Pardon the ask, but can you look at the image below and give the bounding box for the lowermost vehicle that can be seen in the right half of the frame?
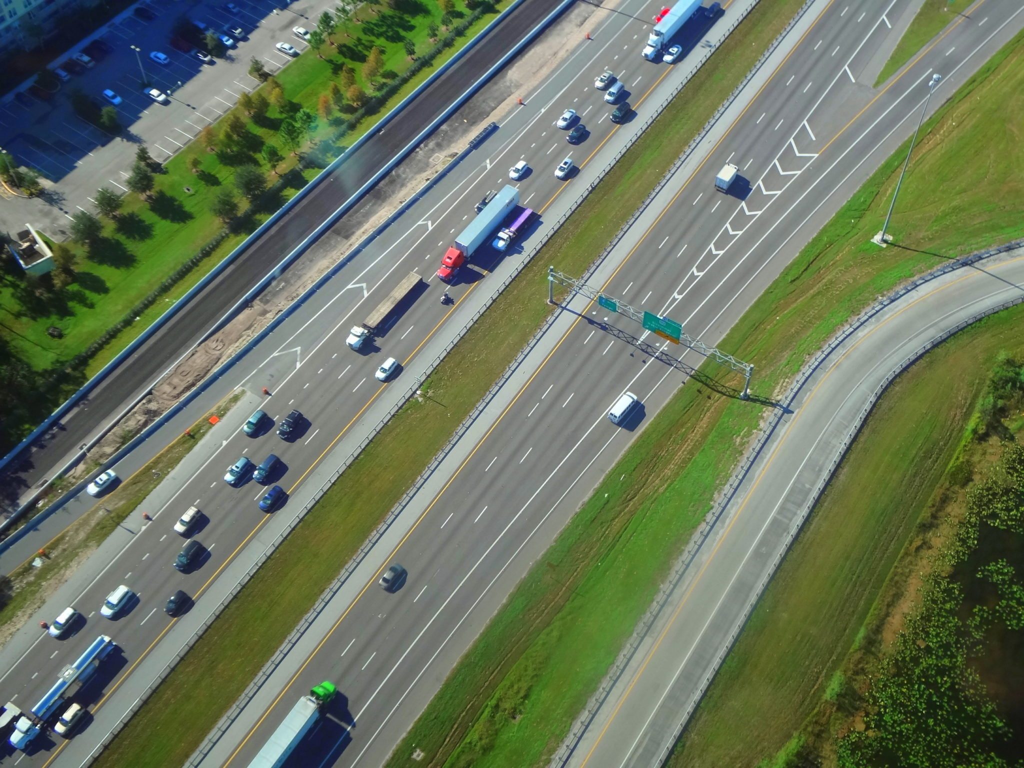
[607,392,638,425]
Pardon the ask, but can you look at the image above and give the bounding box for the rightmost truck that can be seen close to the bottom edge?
[239,681,338,768]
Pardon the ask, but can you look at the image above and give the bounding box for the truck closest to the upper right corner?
[701,2,724,23]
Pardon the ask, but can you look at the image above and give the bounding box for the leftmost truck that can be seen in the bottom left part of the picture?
[0,702,21,733]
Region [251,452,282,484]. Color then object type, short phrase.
blue car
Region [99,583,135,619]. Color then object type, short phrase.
white car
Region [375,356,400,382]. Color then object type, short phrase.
white car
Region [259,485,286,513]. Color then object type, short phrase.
blue car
